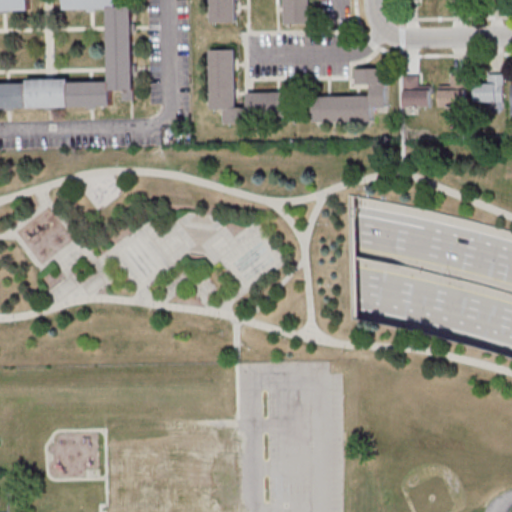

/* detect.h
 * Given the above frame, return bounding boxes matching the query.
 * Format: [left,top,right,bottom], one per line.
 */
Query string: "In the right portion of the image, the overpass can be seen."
[348,194,410,319]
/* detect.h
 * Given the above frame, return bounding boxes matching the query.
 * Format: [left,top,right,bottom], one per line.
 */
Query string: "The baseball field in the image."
[403,464,466,512]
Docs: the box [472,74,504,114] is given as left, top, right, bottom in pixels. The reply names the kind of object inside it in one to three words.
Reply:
house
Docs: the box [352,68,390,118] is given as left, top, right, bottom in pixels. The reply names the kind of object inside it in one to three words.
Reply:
building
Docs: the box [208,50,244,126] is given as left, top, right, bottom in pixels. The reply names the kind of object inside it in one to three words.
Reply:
building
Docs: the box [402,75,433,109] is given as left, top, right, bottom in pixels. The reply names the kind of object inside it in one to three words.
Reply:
house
